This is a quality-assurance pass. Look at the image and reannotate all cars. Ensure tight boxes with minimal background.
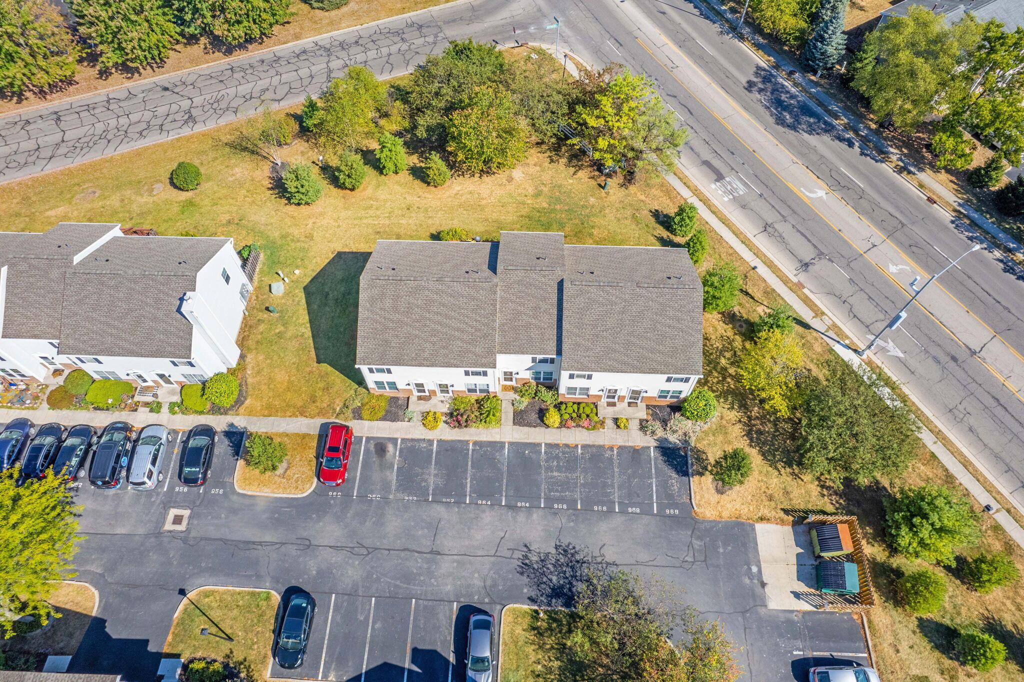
[125,427,172,491]
[315,424,352,488]
[807,666,883,682]
[178,426,220,491]
[0,418,39,479]
[18,422,67,486]
[85,423,136,491]
[464,613,498,682]
[53,422,98,482]
[274,594,316,674]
